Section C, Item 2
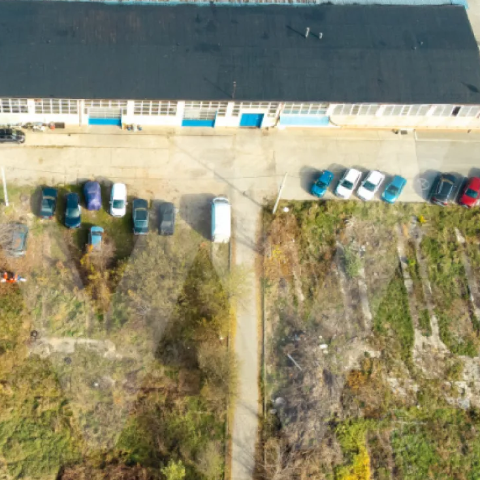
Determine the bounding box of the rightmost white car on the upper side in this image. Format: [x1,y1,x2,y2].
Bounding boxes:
[357,168,386,203]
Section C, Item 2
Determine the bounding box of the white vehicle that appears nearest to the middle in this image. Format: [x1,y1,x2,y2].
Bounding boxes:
[209,194,233,247]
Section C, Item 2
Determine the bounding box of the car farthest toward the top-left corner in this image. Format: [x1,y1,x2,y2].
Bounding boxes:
[0,126,26,146]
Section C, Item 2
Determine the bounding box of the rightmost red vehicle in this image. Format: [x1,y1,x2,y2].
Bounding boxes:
[457,175,480,209]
